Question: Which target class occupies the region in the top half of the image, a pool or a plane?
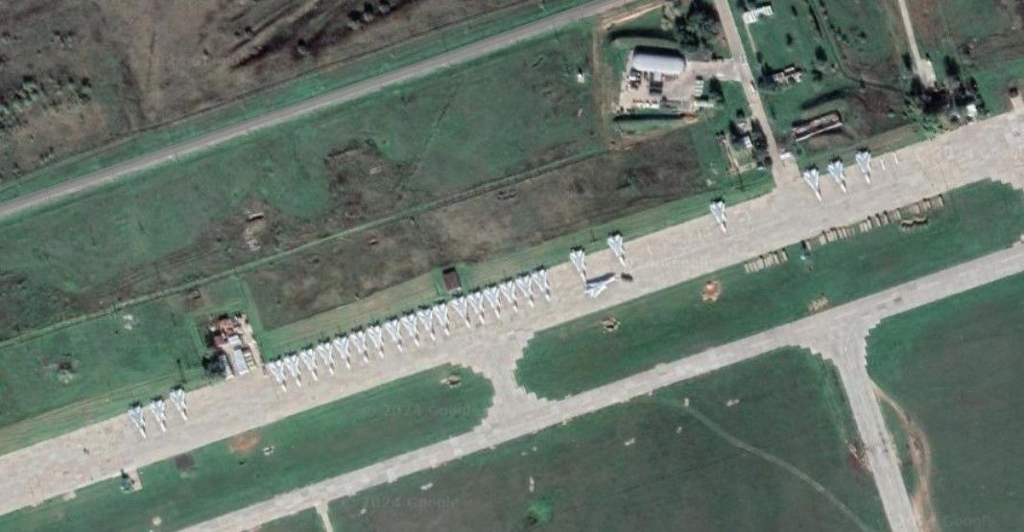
plane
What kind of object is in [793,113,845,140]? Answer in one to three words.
shed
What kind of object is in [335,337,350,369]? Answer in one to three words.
airplane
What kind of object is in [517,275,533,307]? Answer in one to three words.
airplane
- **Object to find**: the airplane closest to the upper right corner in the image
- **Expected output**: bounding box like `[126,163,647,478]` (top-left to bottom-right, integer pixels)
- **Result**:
[856,152,871,184]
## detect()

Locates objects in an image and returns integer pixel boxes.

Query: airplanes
[172,389,187,422]
[335,337,350,369]
[385,320,401,351]
[856,152,871,184]
[485,287,500,318]
[285,355,300,387]
[468,292,484,324]
[517,275,533,307]
[452,297,470,328]
[300,349,317,380]
[150,400,165,431]
[608,235,626,268]
[829,161,845,193]
[805,169,821,202]
[368,326,383,357]
[129,406,146,439]
[269,360,285,391]
[433,305,449,338]
[402,314,418,346]
[711,201,726,232]
[572,251,587,283]
[533,270,550,303]
[316,343,333,374]
[350,331,367,363]
[586,278,616,299]
[501,281,517,313]
[419,309,435,341]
